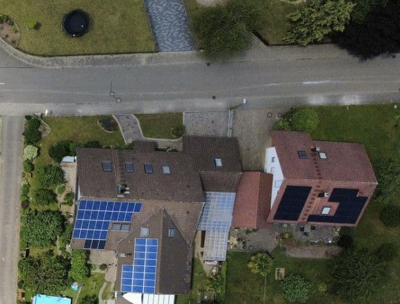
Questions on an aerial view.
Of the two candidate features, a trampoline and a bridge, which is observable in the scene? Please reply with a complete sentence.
The one in the frame is a trampoline.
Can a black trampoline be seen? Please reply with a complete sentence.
Yes, looking at the shot, I can spot a black trampoline.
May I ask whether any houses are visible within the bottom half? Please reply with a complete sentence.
Yes, you'll find a house within the bottom half.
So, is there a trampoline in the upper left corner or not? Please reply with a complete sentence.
Yes, the scene does show a trampoline in the upper left corner.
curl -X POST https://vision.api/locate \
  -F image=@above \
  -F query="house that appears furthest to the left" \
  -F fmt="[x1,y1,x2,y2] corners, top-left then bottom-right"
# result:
[69,135,241,304]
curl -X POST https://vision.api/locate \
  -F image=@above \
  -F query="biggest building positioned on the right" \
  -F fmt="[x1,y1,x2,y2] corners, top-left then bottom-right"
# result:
[258,130,378,226]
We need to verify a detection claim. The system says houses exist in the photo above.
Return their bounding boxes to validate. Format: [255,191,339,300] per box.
[69,135,241,304]
[258,130,378,226]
